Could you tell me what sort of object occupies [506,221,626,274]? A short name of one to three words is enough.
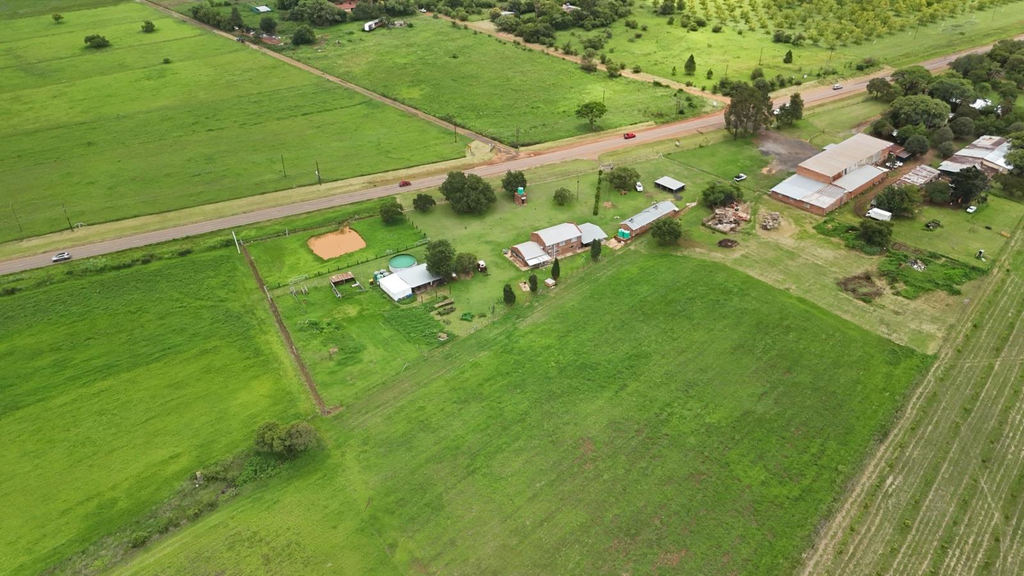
house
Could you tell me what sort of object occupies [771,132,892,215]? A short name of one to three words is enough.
building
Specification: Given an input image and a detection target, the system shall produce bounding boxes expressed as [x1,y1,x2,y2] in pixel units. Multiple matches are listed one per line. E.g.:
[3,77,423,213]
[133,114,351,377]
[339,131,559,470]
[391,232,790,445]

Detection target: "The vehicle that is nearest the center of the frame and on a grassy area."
[478,257,492,274]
